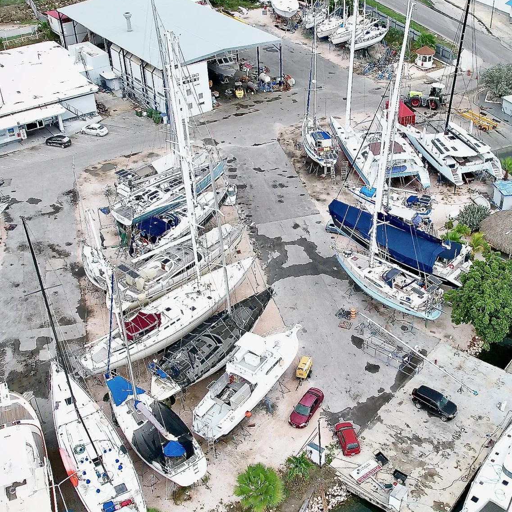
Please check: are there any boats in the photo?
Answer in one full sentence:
Yes, there's a boat down there.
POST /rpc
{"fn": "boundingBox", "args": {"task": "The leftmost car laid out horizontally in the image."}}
[45,131,73,144]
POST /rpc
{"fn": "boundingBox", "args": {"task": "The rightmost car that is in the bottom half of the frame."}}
[412,382,459,420]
